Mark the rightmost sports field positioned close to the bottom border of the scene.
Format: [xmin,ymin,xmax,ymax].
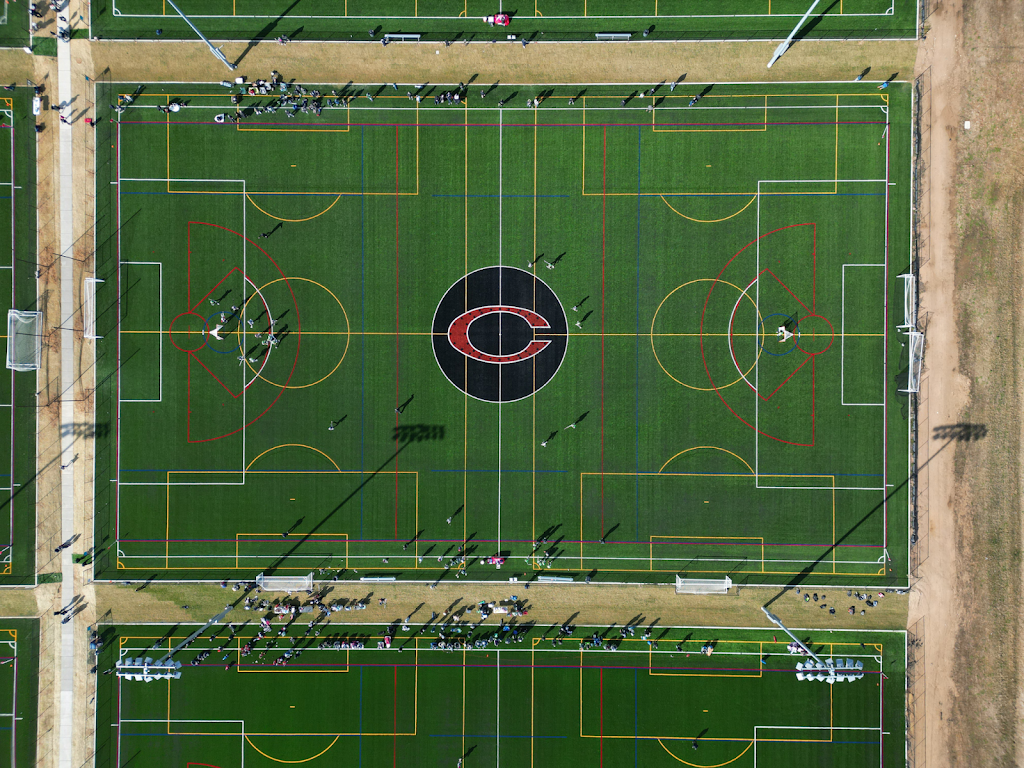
[94,624,908,768]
